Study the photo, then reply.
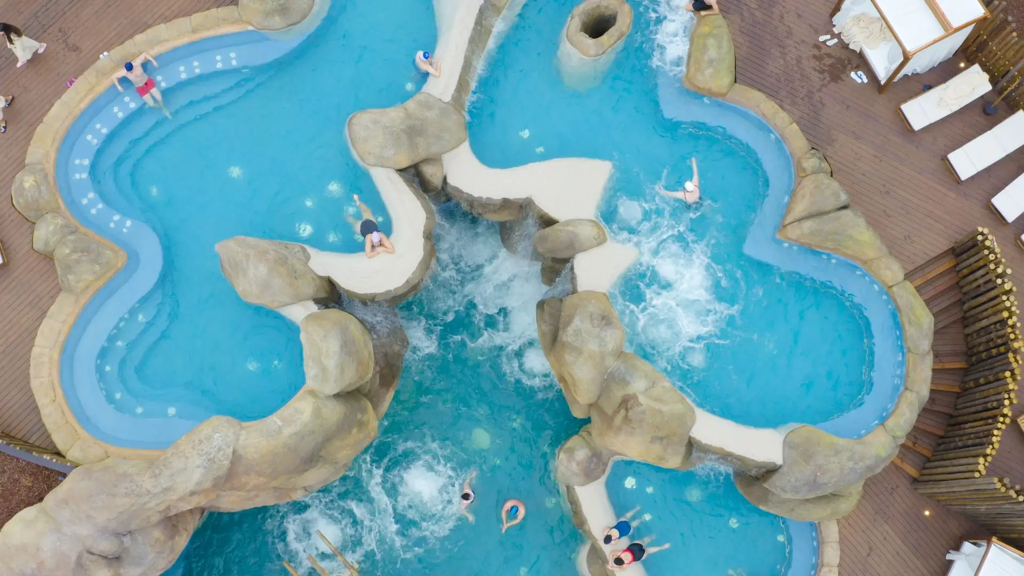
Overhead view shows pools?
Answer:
Yes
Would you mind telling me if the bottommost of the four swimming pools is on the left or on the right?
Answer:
right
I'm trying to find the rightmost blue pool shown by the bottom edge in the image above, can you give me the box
[607,463,816,576]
